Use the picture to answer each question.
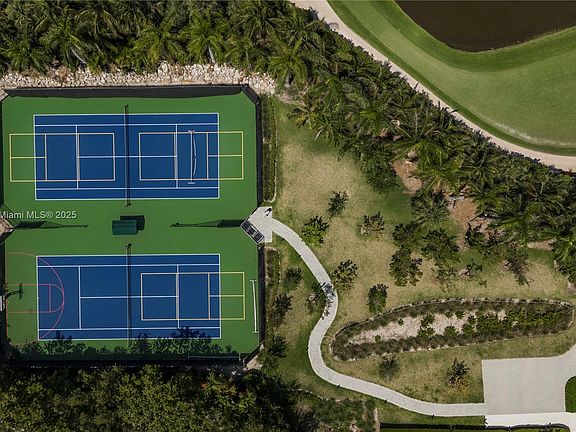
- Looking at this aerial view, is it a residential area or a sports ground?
sports ground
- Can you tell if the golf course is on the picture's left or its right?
right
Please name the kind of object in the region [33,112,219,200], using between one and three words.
tennis court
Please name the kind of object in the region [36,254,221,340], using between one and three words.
tennis court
